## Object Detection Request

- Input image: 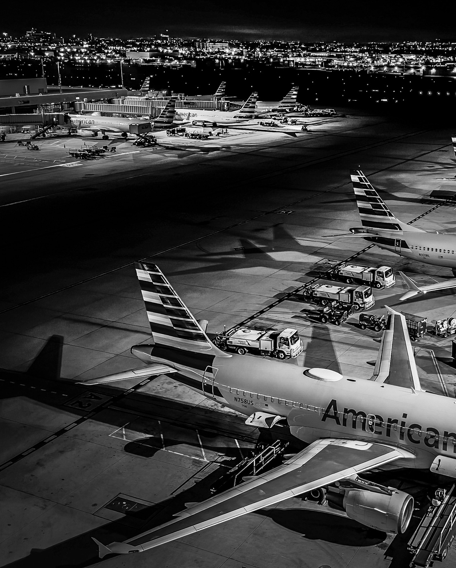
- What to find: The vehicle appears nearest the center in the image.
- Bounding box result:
[222,314,301,359]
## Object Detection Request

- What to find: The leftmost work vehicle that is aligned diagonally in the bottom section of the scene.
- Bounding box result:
[194,422,285,499]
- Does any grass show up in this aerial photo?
No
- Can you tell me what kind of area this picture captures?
airport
